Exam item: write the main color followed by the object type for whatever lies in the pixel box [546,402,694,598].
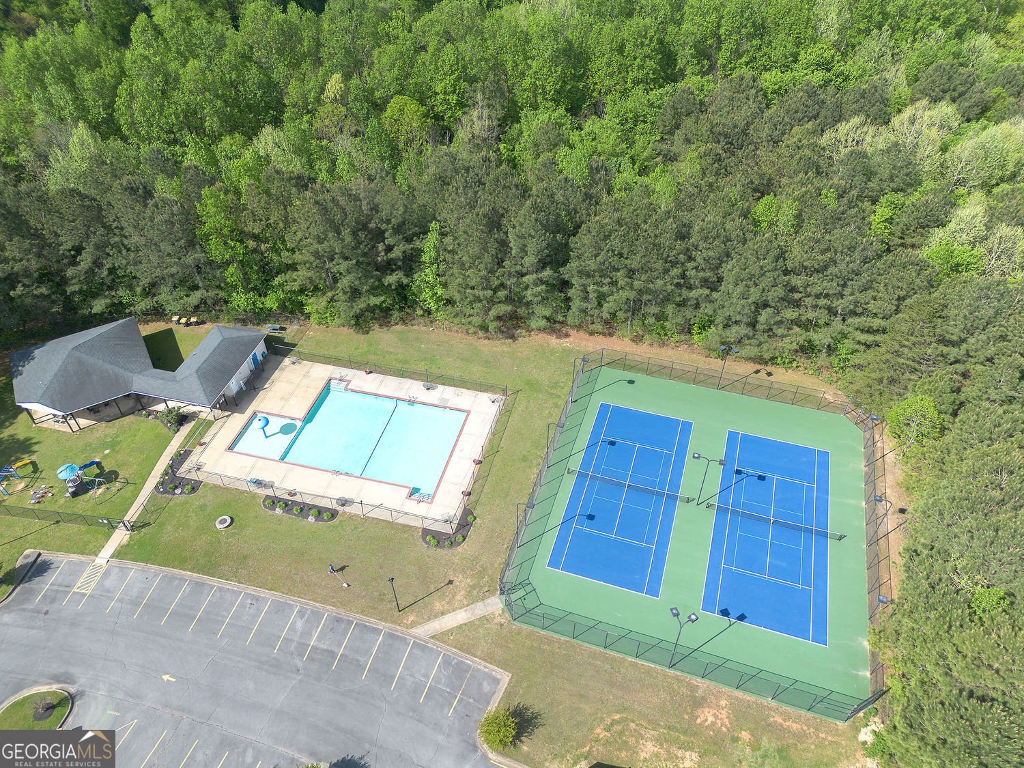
blue tennis court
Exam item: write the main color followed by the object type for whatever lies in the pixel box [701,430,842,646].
blue tennis court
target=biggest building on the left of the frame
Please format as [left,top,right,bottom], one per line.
[12,316,269,433]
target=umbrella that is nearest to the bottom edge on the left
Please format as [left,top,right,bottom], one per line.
[252,416,270,440]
